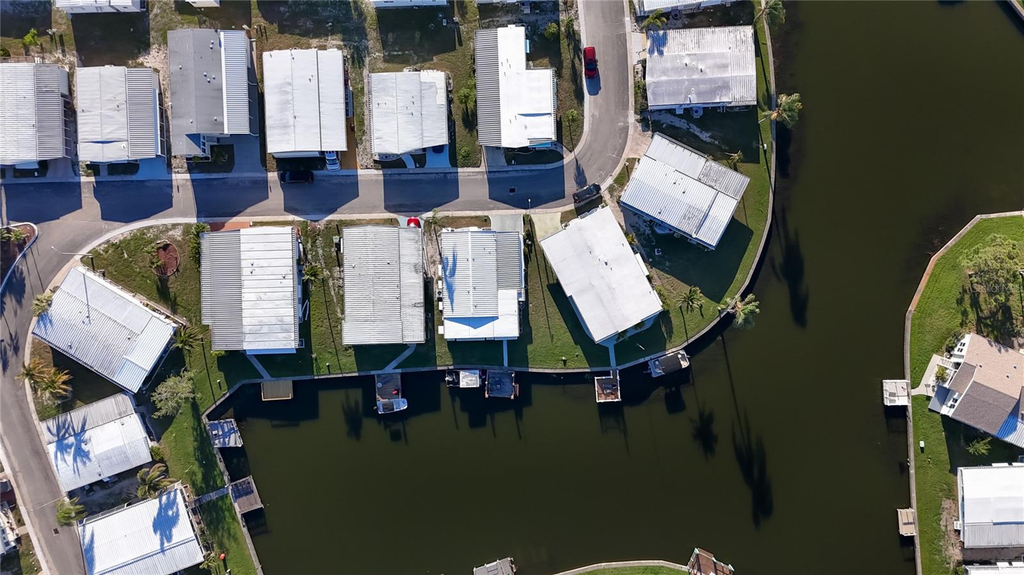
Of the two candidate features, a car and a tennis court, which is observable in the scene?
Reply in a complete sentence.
The image shows a car.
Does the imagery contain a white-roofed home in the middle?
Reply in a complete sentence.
Yes, a white-roofed home is visible in the middle.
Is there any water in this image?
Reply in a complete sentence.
Yes, the picture does contain water.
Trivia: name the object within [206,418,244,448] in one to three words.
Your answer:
pier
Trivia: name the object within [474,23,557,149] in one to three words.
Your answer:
house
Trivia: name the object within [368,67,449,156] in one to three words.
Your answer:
house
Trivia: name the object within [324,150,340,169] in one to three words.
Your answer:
car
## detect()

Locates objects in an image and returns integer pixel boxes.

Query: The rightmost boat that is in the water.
[646,351,690,377]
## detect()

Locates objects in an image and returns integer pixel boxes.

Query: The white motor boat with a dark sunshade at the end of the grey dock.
[373,400,409,416]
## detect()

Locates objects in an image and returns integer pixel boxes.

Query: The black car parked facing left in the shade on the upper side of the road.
[279,168,313,184]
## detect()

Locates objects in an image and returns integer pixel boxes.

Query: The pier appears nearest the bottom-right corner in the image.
[896,509,919,537]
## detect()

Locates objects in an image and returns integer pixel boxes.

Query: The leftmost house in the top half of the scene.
[0,63,77,168]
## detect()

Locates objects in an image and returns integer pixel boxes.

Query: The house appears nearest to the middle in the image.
[438,226,524,341]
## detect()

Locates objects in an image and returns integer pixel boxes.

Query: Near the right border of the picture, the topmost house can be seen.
[927,333,1024,449]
